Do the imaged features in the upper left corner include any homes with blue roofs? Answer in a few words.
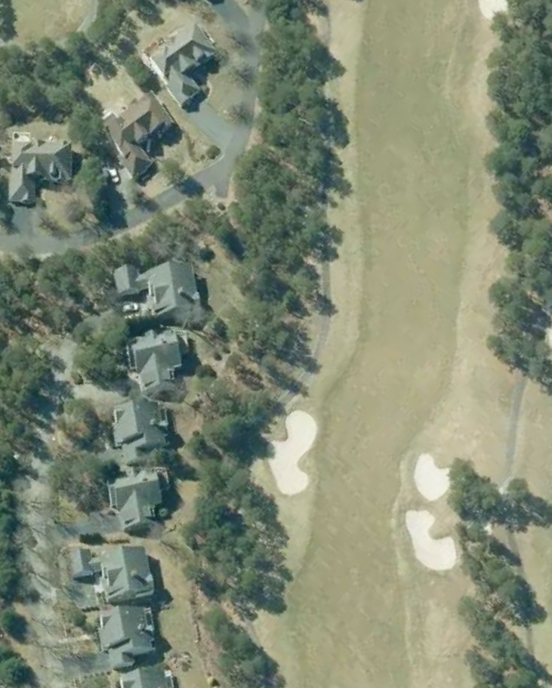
No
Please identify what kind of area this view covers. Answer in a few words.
golf course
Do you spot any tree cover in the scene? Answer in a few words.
Yes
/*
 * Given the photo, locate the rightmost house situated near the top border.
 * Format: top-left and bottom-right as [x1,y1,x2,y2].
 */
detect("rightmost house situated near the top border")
[150,24,215,111]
